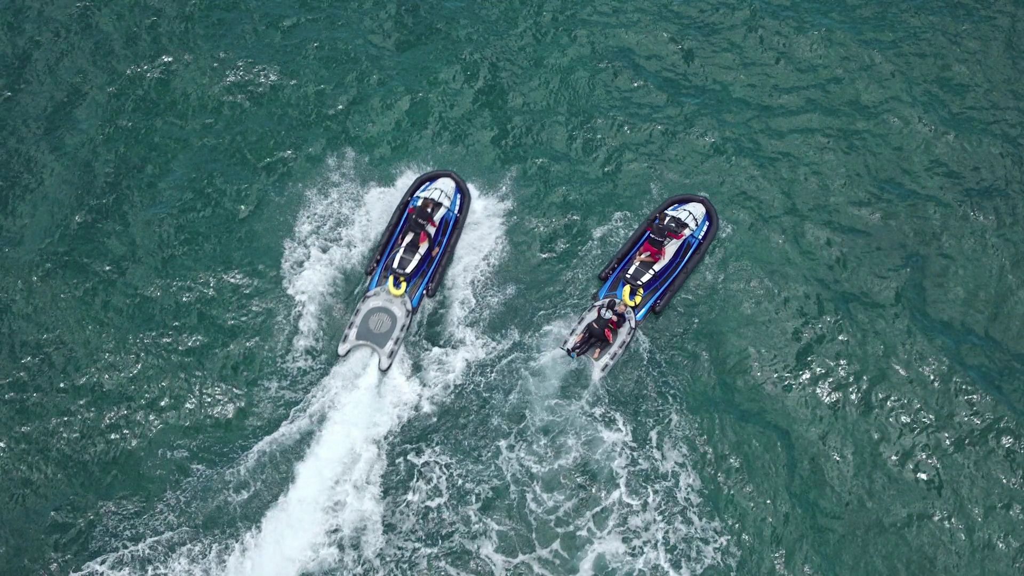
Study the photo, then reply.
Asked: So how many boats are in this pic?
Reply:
2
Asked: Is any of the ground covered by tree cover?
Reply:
No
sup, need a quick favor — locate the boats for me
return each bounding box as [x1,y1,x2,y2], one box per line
[362,172,468,315]
[601,194,715,323]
